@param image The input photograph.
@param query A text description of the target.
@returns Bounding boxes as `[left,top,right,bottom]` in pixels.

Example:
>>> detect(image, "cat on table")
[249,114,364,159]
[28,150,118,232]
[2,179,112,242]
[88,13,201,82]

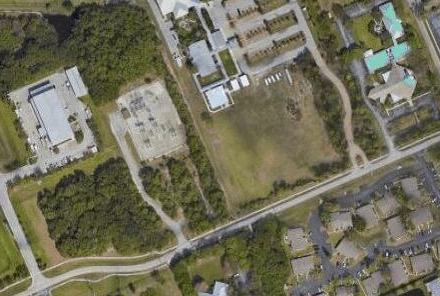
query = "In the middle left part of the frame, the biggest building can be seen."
[31,88,73,146]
